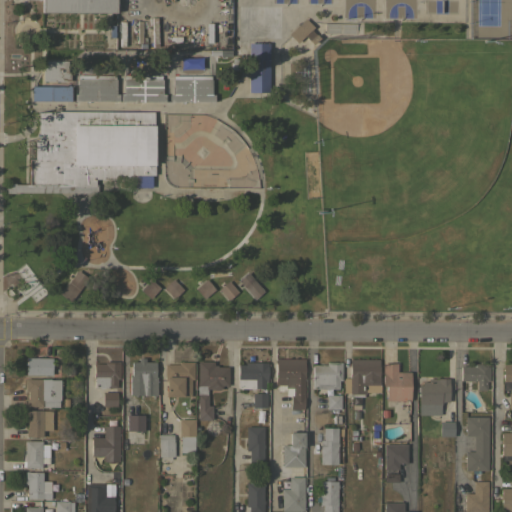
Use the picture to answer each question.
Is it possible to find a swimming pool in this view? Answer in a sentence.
Yes, I can see a swimming pool in this picture.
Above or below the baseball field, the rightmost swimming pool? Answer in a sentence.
Looking at the scene, the rightmost swimming pool is located below the baseball field.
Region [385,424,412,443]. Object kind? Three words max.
swimming pool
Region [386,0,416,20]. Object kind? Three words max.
basketball court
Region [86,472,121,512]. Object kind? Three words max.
house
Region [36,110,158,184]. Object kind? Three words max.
building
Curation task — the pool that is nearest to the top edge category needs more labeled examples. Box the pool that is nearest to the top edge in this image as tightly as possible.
[466,391,487,412]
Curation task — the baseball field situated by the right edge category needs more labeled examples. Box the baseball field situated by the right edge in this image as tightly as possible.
[318,38,512,242]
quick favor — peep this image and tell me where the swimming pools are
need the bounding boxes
[466,391,487,412]
[385,424,412,443]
